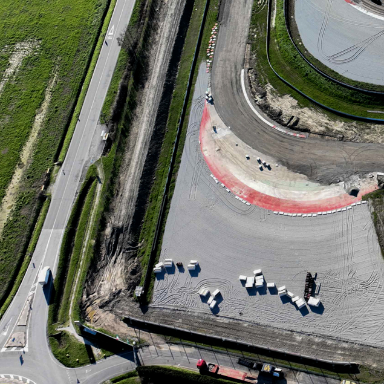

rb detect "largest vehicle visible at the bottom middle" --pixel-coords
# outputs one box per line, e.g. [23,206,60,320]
[188,352,255,383]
